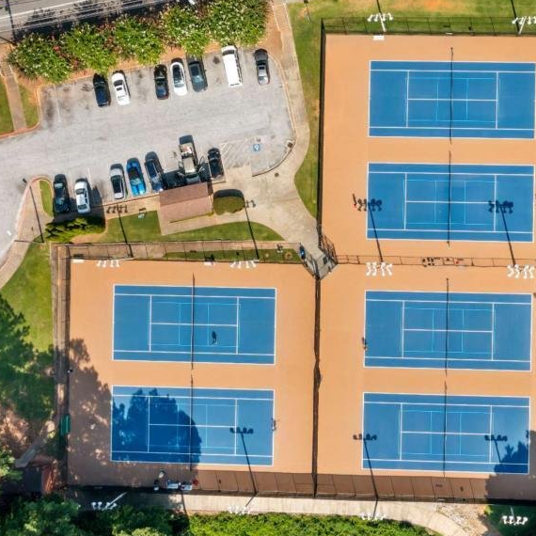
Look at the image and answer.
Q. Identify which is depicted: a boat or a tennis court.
tennis court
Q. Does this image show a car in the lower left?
No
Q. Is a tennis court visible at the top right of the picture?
Yes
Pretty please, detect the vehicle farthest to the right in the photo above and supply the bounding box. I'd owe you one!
[254,50,270,85]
